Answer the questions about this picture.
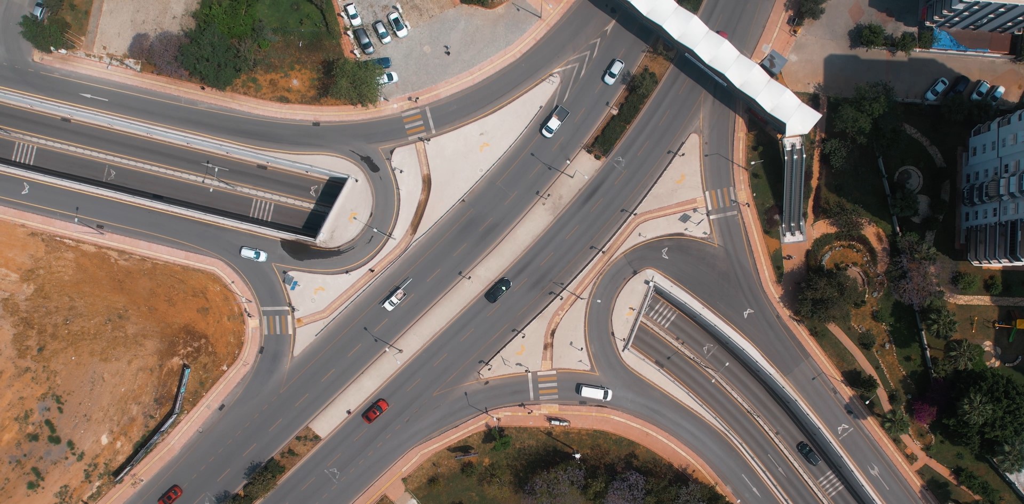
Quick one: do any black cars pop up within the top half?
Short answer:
Yes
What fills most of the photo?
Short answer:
paved ground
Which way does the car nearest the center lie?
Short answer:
diagonally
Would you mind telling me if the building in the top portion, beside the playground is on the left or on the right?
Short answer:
right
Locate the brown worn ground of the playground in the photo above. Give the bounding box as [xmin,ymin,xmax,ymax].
[953,305,1024,368]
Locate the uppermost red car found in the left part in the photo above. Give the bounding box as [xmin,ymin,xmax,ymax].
[360,399,389,426]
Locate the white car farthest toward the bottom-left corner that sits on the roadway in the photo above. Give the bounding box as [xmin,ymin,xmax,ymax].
[236,245,267,262]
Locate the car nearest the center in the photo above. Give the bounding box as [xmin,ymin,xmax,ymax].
[484,277,512,304]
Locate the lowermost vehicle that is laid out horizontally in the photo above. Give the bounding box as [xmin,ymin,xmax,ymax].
[577,385,613,403]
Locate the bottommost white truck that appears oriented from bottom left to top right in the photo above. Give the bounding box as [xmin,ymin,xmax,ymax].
[375,279,410,313]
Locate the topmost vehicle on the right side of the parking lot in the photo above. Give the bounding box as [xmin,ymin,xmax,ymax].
[717,21,735,41]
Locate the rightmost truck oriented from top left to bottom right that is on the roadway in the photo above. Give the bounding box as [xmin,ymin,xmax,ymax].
[797,439,826,471]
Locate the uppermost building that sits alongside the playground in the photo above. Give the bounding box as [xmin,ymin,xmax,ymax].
[952,108,1024,273]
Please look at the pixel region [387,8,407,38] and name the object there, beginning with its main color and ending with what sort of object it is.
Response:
white car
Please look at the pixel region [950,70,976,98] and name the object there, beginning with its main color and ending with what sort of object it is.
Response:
black car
